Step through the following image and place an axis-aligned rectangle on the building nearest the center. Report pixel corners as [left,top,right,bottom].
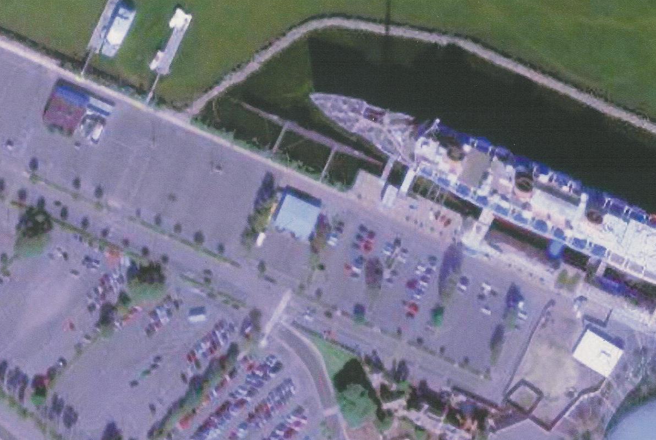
[275,193,320,237]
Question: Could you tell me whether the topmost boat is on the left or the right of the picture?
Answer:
left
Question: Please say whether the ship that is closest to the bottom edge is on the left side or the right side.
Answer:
right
